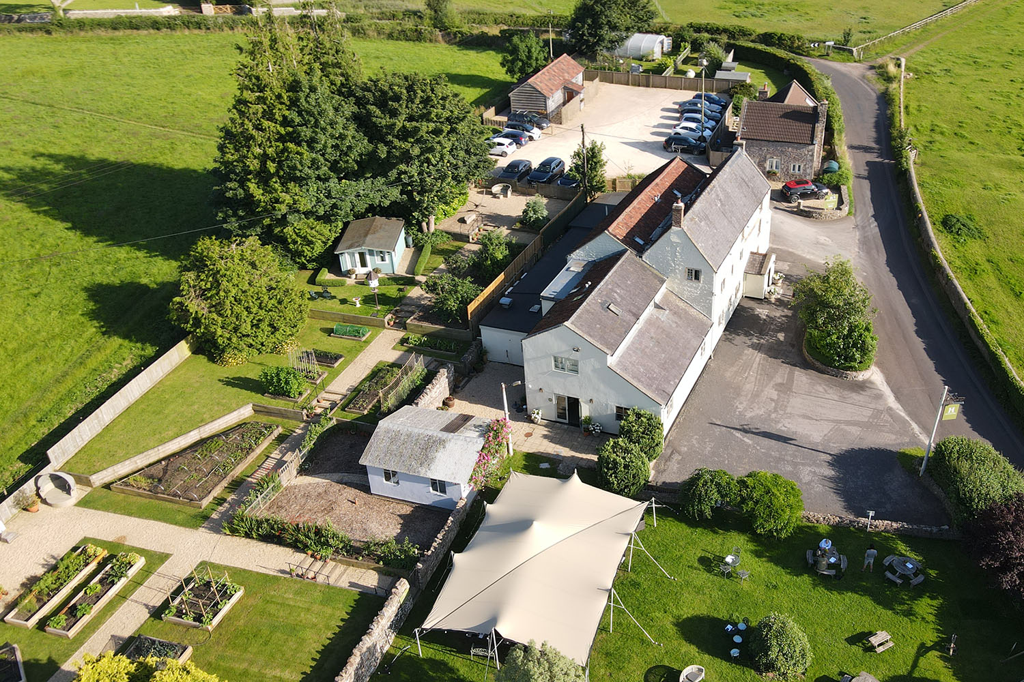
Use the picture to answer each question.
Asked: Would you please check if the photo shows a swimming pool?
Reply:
No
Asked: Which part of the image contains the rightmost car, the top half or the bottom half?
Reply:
top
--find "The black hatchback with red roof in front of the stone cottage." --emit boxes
[782,179,832,202]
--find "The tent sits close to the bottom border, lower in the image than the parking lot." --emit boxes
[381,457,676,682]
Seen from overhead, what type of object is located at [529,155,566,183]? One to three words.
car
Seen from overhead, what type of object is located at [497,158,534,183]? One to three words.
car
